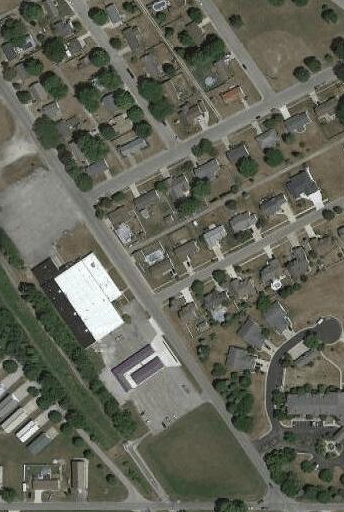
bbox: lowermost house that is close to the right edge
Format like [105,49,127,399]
[285,393,344,445]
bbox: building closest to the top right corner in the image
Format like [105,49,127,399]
[313,95,340,121]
